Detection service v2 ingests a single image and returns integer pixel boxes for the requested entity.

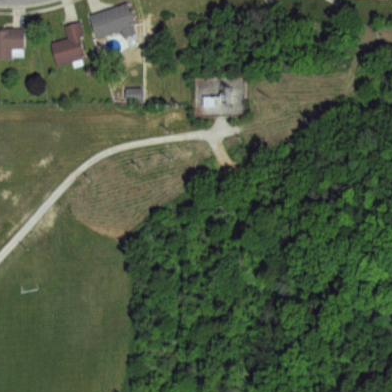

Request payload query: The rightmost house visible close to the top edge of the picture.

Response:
[90,2,134,38]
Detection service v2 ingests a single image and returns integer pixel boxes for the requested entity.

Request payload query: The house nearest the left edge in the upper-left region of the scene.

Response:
[0,28,24,60]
